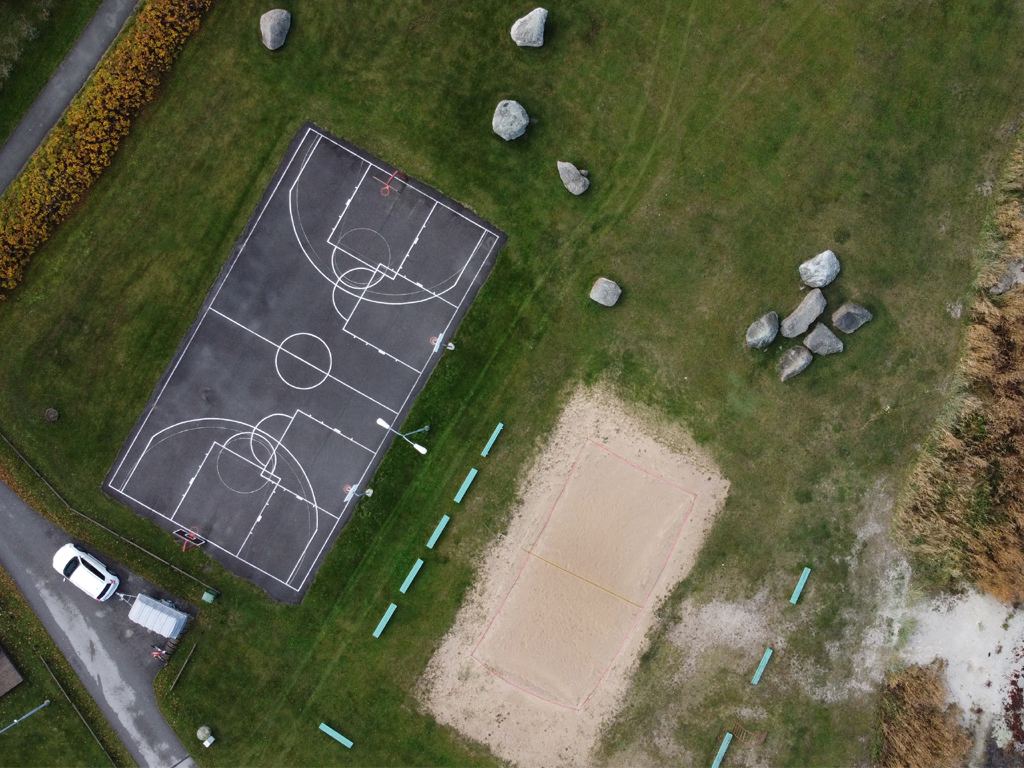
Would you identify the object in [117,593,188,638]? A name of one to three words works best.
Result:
trailer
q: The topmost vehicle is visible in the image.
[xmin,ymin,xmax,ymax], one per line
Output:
[54,543,121,601]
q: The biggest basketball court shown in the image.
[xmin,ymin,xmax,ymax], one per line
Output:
[102,121,508,605]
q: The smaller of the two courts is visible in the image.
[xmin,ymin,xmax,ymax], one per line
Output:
[428,393,718,767]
